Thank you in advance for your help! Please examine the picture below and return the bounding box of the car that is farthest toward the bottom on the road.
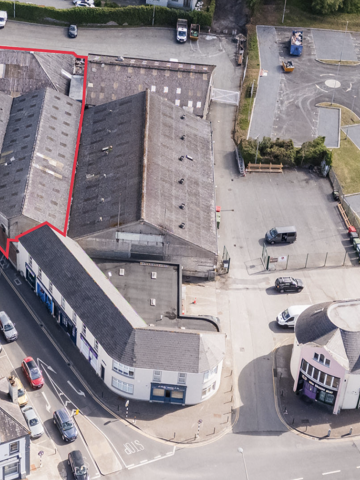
[67,448,91,480]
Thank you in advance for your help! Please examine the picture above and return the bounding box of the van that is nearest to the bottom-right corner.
[273,299,318,327]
